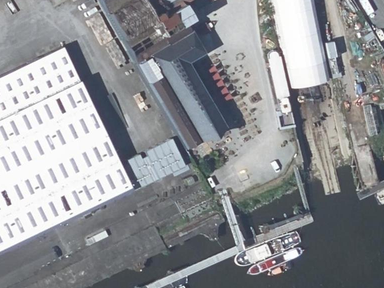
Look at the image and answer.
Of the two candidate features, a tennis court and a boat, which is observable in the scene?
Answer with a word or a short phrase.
boat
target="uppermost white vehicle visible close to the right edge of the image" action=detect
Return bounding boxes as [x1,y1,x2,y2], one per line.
[360,0,374,18]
